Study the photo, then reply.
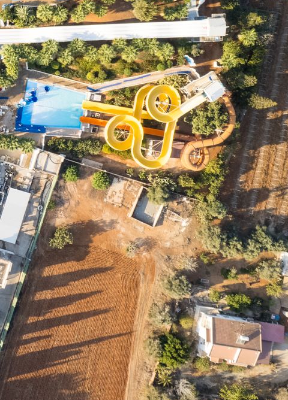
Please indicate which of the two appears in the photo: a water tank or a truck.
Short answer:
water tank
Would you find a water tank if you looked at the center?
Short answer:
Yes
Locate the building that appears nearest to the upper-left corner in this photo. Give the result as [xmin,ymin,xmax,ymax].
[31,150,65,175]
